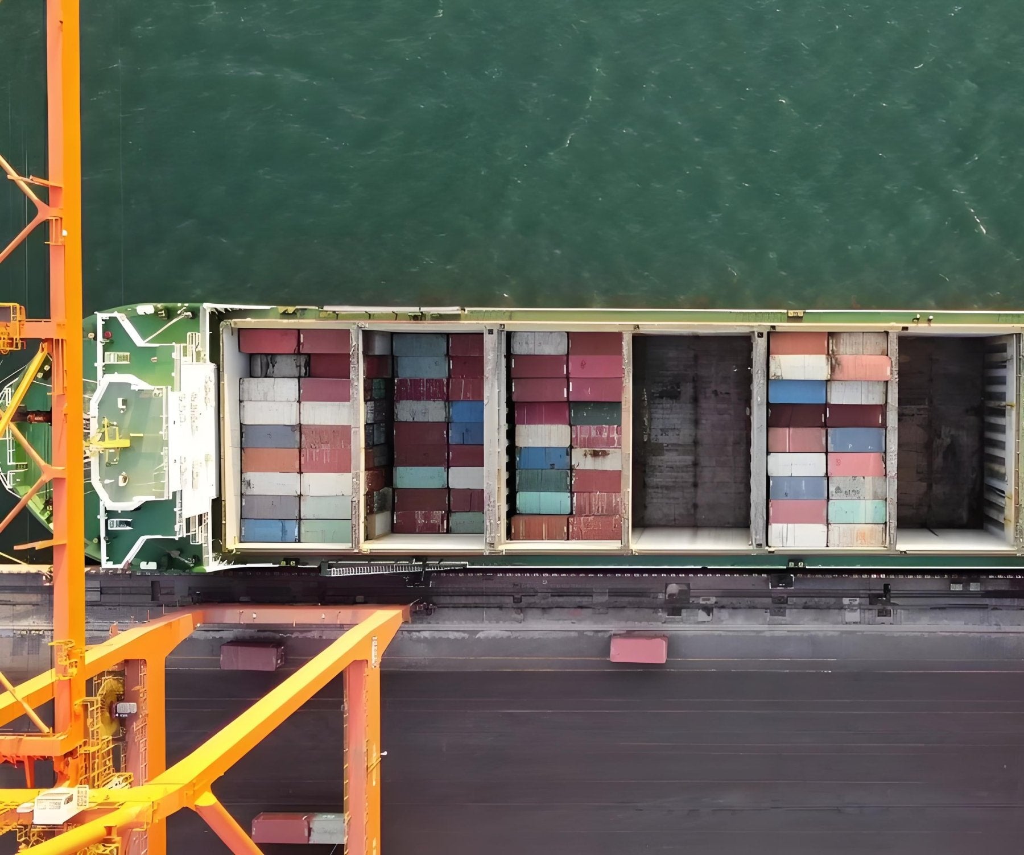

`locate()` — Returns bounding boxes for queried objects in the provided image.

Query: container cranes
[0,0,444,855]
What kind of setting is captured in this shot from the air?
port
